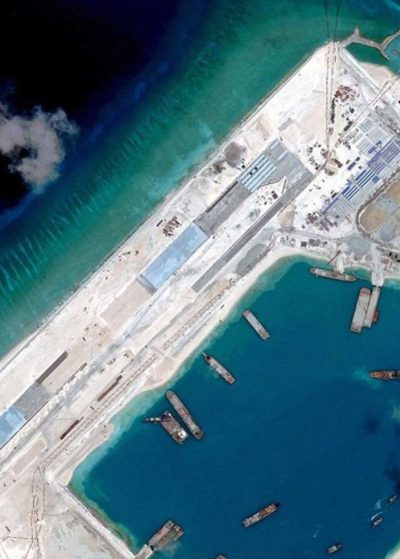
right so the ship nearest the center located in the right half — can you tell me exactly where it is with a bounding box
[242,308,271,341]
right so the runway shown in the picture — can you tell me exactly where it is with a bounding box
[0,154,275,451]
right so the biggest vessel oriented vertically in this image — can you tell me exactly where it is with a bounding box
[350,287,371,334]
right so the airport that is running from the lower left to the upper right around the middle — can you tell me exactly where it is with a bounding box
[0,138,315,451]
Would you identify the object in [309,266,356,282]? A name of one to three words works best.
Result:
ship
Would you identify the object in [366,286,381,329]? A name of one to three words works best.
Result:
ship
